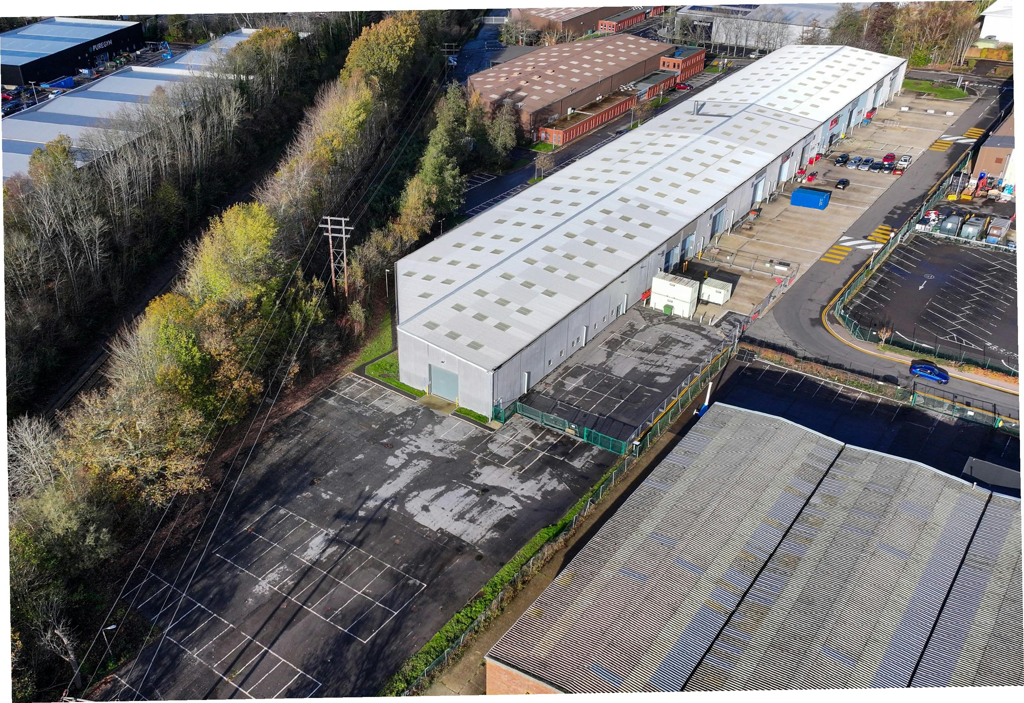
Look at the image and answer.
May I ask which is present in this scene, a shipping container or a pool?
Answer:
shipping container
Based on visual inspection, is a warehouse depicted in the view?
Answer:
Yes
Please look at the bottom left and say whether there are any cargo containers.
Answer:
No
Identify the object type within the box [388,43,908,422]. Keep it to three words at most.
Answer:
warehouse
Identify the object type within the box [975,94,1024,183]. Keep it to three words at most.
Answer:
building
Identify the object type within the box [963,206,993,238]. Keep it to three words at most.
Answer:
shipping container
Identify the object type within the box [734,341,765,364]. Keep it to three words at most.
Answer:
solar panel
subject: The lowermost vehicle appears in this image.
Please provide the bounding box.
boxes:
[911,365,949,384]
